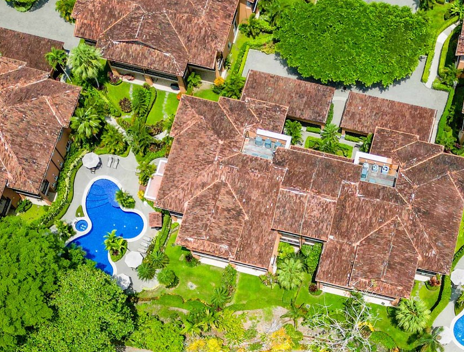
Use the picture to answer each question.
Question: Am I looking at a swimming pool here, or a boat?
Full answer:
Looking from above, you can make out a swimming pool.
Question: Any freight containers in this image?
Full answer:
No, there's no freight container here.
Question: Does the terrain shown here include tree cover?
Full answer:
Yes, tree cover shows up in the scene.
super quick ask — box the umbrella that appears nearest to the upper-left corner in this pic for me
[82,154,99,170]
